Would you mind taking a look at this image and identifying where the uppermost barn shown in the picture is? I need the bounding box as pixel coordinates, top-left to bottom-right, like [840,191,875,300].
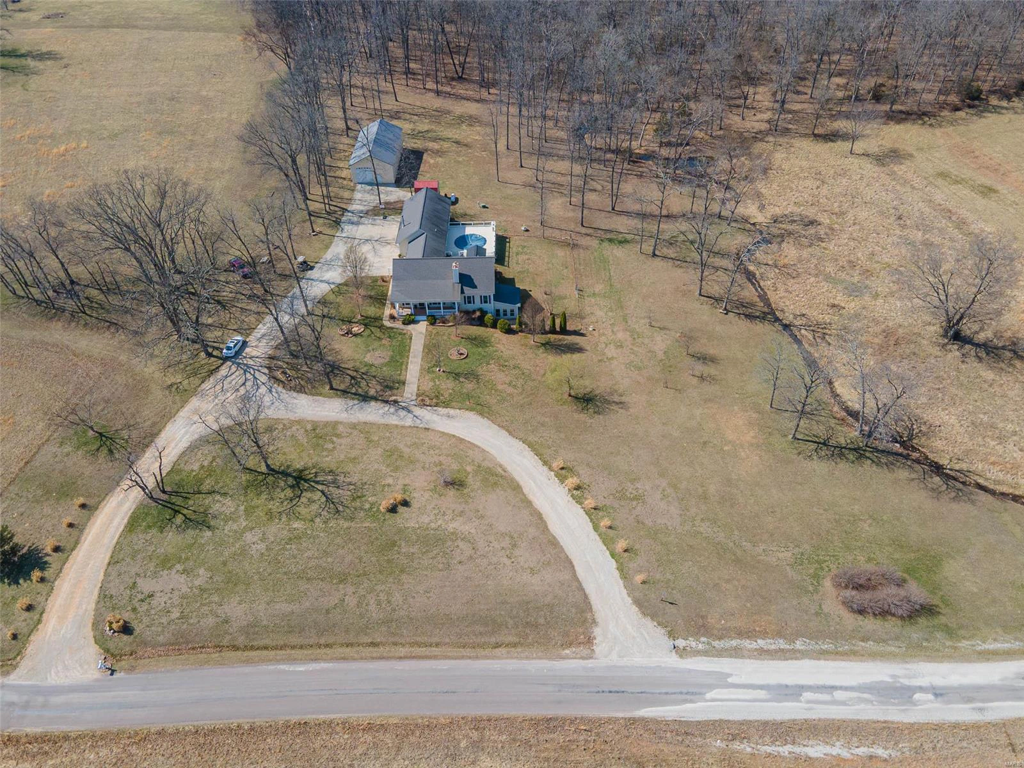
[348,119,403,183]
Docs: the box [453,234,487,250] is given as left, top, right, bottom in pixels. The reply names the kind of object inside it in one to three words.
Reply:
swimming pool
